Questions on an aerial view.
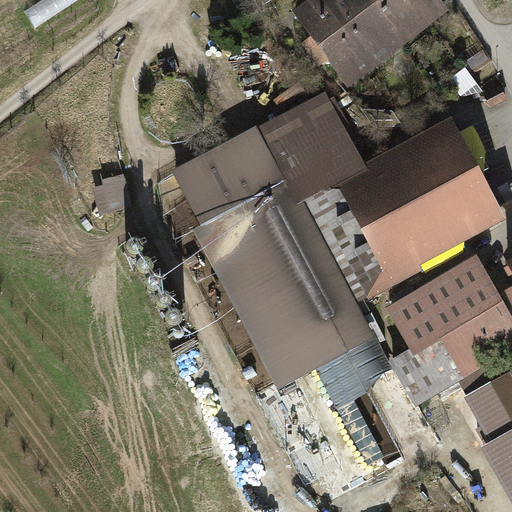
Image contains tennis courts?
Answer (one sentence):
No, no tennis court can be seen from above.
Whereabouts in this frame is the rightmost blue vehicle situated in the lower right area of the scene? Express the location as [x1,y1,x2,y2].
[470,482,484,503]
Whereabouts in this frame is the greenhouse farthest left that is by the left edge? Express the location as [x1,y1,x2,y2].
[24,0,76,28]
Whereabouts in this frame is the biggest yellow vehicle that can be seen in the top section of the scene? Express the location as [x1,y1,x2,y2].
[259,80,274,106]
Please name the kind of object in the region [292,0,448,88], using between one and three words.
house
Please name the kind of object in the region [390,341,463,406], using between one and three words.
shed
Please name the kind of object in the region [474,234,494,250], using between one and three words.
car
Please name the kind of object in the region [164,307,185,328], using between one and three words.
silo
